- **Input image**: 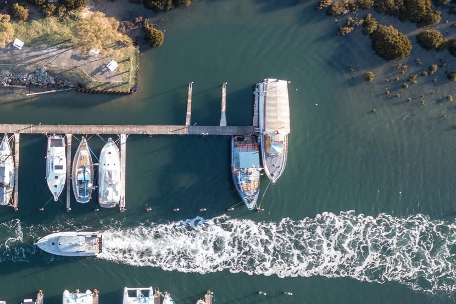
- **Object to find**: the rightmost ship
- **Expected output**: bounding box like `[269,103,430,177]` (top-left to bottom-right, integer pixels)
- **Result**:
[257,78,293,181]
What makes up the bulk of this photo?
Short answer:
water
